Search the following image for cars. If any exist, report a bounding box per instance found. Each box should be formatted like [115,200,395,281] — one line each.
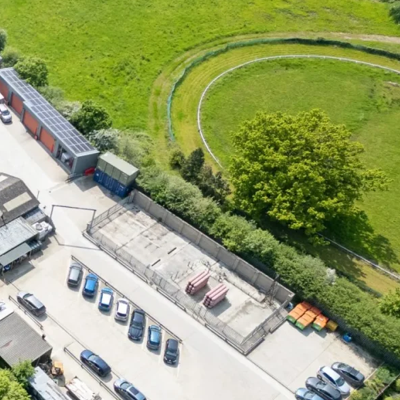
[83,274,99,297]
[0,103,11,122]
[305,377,344,400]
[294,387,325,400]
[112,378,147,400]
[79,349,112,378]
[16,292,47,317]
[162,337,180,365]
[127,309,146,342]
[98,289,115,312]
[145,326,163,351]
[328,361,368,392]
[67,264,83,286]
[317,367,350,395]
[114,298,131,323]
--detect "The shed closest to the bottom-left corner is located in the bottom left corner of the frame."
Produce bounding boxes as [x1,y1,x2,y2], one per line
[0,300,52,375]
